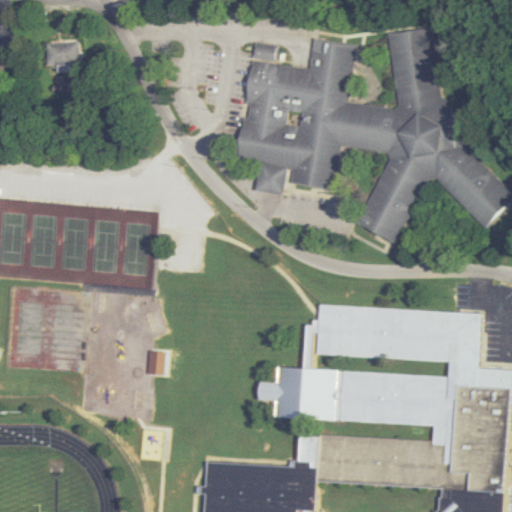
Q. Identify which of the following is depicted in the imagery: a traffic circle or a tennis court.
tennis court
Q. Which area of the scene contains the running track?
bottom left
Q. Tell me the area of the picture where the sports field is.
bottom left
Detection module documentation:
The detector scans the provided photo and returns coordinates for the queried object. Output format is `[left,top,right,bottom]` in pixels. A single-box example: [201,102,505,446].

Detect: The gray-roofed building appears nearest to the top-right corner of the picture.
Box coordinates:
[240,30,510,244]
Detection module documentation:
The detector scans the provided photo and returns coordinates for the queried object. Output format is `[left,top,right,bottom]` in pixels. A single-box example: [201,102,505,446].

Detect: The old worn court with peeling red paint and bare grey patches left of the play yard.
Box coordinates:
[8,287,86,372]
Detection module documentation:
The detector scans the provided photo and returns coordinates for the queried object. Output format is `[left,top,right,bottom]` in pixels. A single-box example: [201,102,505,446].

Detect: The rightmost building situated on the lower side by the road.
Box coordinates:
[196,304,512,512]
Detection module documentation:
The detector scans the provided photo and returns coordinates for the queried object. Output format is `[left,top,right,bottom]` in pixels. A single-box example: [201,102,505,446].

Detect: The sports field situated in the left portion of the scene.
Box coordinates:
[0,446,100,512]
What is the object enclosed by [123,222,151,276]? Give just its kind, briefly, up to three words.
tennis court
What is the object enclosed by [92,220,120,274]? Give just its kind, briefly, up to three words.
tennis court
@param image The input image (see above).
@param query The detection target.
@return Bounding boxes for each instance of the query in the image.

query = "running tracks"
[0,425,121,512]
